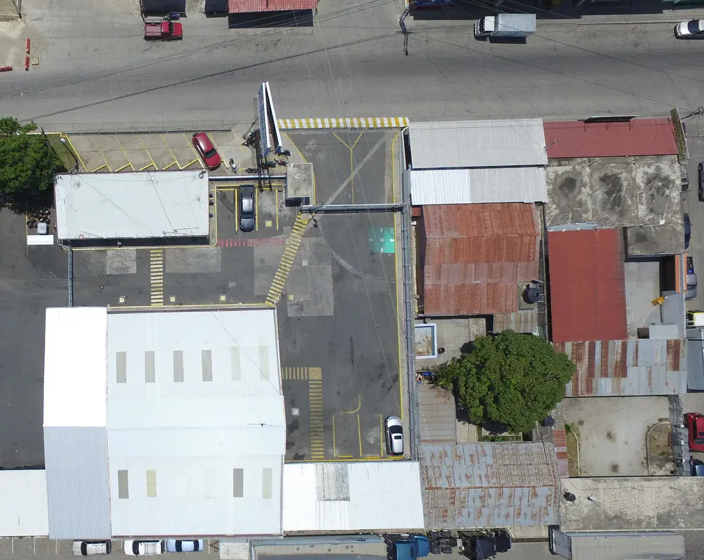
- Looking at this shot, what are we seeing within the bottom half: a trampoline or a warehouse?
warehouse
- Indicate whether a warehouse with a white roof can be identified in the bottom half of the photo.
Yes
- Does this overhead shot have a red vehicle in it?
Yes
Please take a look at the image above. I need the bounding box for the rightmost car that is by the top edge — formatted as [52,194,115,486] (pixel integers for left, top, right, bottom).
[673,21,704,40]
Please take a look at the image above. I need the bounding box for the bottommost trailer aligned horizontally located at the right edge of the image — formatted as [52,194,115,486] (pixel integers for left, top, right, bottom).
[552,526,673,559]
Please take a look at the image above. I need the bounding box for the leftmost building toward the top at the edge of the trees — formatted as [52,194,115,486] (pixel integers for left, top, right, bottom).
[56,170,210,241]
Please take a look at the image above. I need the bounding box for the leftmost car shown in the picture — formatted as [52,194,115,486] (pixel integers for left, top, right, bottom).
[72,539,111,558]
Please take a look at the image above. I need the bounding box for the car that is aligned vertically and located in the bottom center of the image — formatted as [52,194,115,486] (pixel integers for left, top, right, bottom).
[385,416,404,454]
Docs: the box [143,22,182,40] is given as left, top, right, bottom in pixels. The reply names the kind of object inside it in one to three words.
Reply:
vehicle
